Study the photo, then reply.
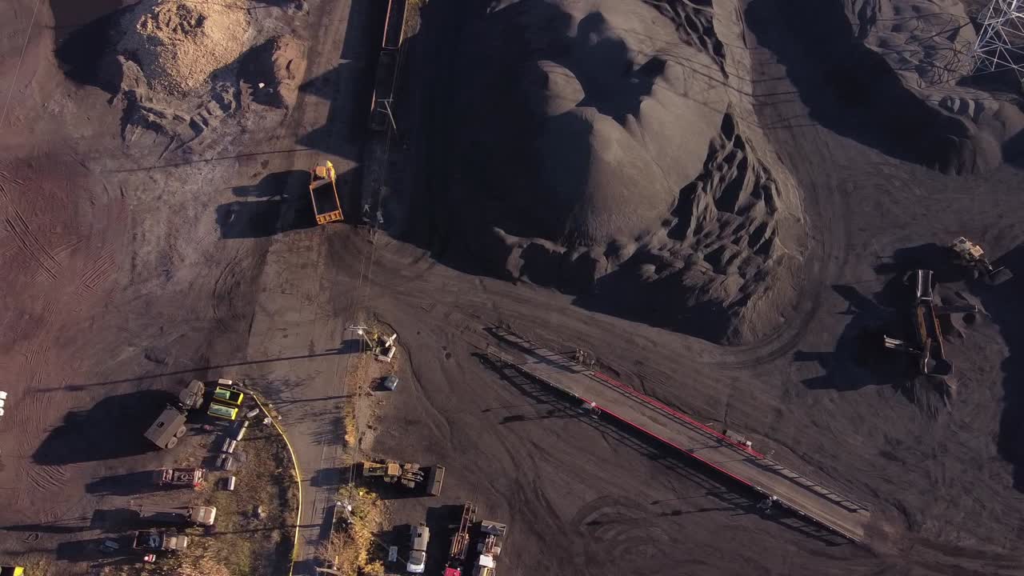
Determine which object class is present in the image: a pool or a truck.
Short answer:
truck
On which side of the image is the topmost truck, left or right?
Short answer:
left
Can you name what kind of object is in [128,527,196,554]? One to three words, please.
truck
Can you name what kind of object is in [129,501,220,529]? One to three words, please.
truck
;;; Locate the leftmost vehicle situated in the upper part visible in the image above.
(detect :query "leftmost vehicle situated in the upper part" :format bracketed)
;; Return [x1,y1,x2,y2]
[306,162,344,229]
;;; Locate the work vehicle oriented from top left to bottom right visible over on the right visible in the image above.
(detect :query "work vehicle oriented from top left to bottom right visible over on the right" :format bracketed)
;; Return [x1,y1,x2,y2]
[945,235,1018,295]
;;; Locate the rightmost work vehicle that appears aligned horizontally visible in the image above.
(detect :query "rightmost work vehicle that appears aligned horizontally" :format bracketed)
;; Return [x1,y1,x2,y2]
[366,461,450,503]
